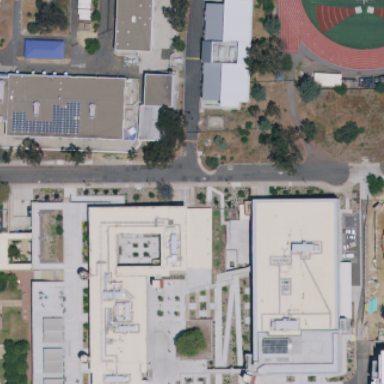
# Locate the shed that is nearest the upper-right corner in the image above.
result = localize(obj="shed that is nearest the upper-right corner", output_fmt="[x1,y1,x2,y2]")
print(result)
[313,74,342,88]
